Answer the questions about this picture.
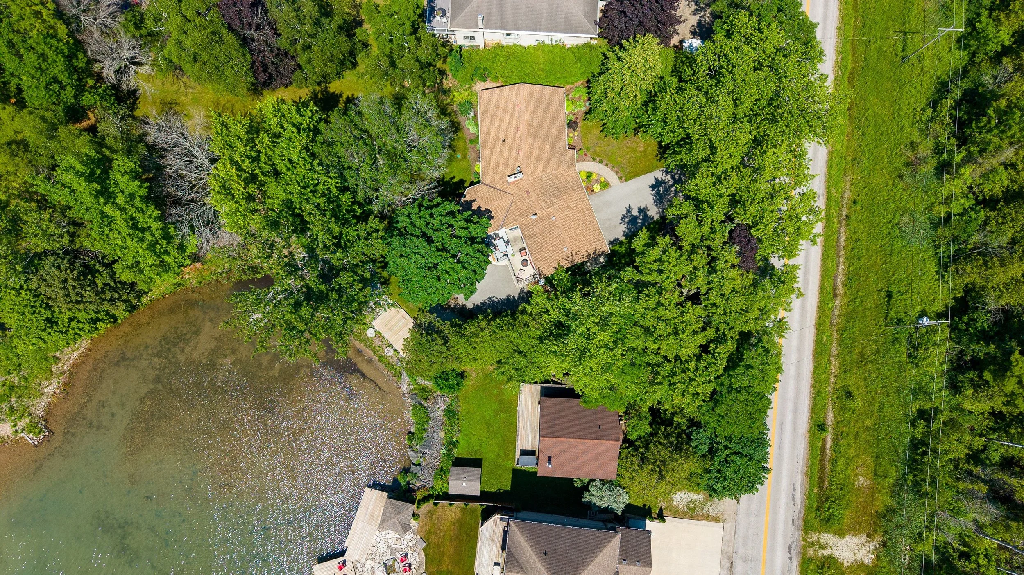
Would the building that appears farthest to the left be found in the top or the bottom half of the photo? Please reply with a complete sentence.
The building that appears farthest to the left sits in the bottom half of the picture.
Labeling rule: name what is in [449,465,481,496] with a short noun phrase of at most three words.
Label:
shed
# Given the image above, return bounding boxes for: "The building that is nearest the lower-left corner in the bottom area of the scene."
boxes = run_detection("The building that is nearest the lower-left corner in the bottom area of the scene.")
[378,494,417,536]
